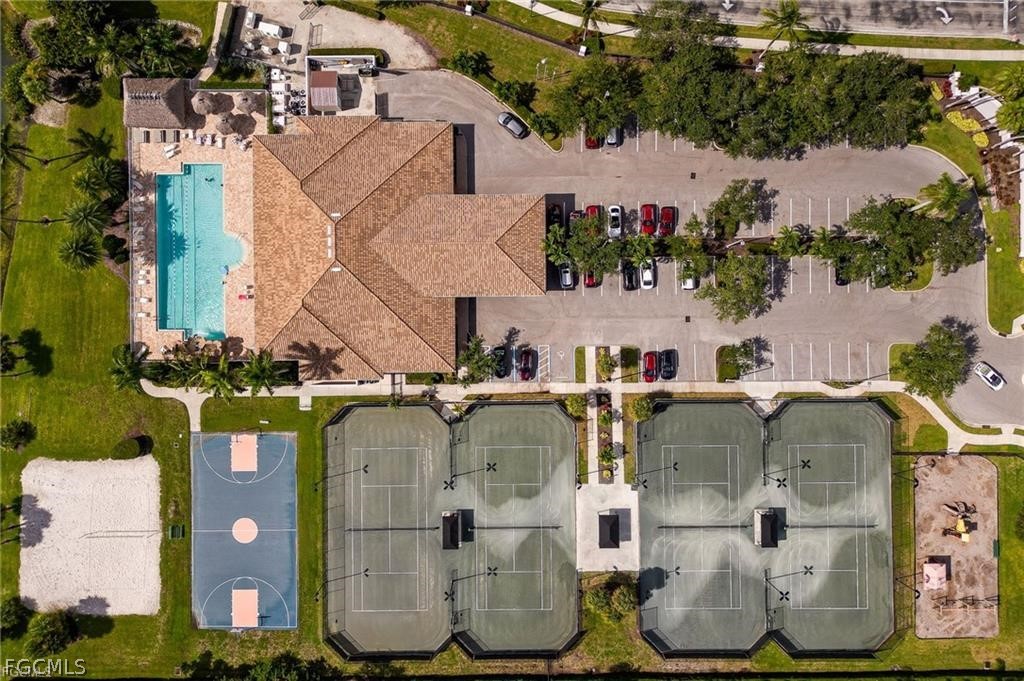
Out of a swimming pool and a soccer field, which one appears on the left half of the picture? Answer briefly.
swimming pool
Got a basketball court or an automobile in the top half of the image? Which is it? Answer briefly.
automobile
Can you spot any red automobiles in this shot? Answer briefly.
Yes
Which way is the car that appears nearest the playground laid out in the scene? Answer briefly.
on a diagonal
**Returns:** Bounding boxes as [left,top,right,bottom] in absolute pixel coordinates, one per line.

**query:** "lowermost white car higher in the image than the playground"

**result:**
[975,362,1009,391]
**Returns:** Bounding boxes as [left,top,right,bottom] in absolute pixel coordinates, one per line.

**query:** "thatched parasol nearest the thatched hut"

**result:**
[188,89,217,117]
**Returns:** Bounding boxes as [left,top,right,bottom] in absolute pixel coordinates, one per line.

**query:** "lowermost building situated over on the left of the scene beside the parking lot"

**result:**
[250,115,545,384]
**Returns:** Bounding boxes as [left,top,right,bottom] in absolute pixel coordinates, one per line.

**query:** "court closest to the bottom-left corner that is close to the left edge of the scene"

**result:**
[18,455,160,614]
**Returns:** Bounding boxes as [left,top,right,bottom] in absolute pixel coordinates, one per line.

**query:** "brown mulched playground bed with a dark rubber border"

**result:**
[915,456,999,640]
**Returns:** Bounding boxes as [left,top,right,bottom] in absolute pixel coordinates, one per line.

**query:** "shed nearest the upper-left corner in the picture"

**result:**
[119,75,189,132]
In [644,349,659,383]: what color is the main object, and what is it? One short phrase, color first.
red car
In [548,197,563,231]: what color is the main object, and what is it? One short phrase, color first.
black car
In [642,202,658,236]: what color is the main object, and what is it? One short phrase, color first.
red car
